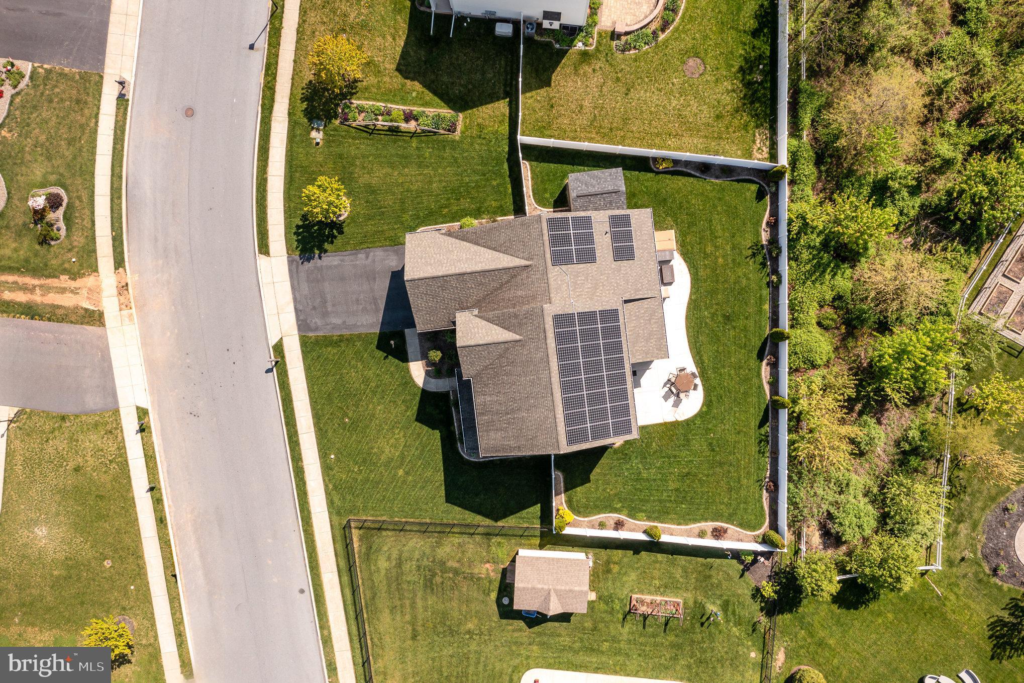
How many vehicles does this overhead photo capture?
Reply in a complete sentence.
The picture shows no vehicles.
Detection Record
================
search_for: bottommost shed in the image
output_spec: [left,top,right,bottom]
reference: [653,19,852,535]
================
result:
[513,549,589,618]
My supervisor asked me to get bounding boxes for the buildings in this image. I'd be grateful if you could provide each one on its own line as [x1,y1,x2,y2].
[430,0,594,38]
[404,208,669,457]
[513,549,589,618]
